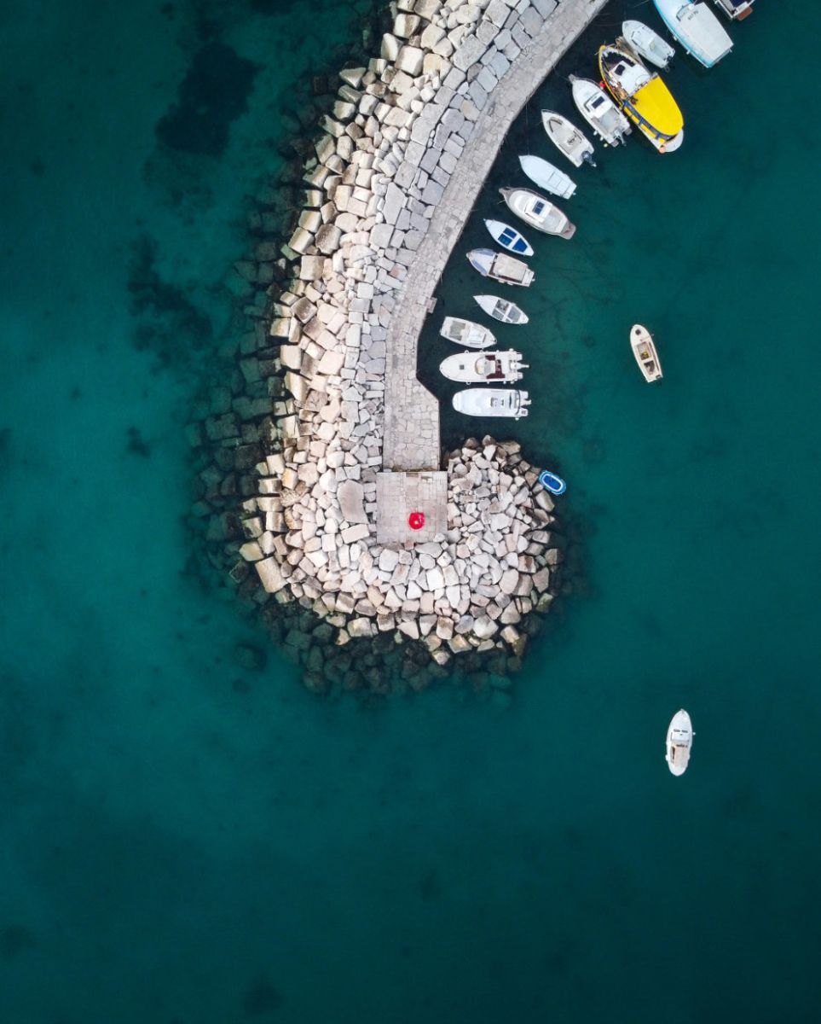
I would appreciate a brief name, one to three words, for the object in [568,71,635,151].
boat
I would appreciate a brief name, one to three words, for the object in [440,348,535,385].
boat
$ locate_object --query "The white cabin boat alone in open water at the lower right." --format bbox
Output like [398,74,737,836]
[661,710,697,777]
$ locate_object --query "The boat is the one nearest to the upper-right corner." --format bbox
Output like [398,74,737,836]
[715,0,754,20]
